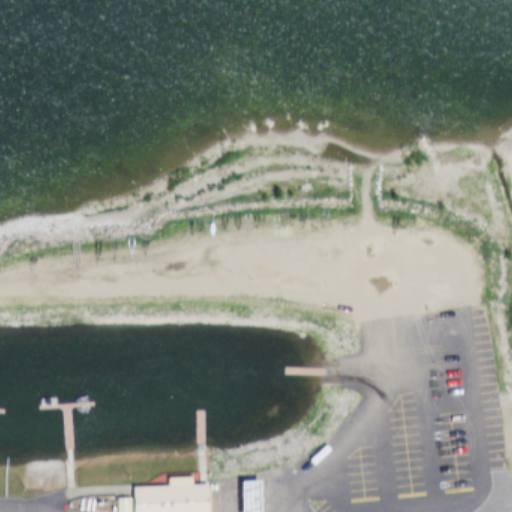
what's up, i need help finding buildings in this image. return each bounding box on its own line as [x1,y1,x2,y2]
[243,481,264,512]
[119,498,132,512]
[134,476,211,512]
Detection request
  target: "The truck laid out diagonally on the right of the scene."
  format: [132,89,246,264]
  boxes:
[303,446,331,472]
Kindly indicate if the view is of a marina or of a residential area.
marina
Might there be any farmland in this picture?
No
